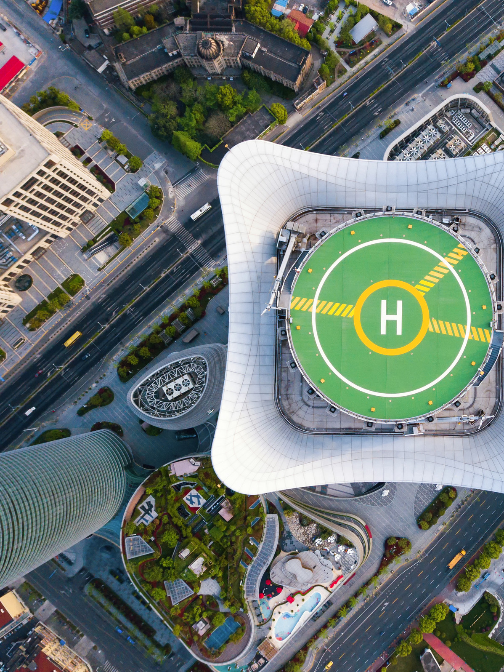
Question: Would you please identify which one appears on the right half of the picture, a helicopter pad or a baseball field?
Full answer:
The one visible on the right half of the picture is a helicopter pad.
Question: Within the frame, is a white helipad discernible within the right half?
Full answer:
No, no white helipad is visible within the right half.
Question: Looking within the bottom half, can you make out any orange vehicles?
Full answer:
Yes, there is an orange vehicle within the bottom half.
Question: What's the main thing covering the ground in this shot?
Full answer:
For the most part, this view shows buildings.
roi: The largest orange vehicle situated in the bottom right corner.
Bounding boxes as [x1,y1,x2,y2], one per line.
[447,549,466,569]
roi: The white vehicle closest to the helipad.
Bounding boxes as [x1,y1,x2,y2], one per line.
[190,202,212,220]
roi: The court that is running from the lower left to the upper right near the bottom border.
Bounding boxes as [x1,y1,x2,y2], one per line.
[204,615,239,649]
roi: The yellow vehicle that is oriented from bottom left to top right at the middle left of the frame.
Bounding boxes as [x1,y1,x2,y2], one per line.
[63,331,82,347]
